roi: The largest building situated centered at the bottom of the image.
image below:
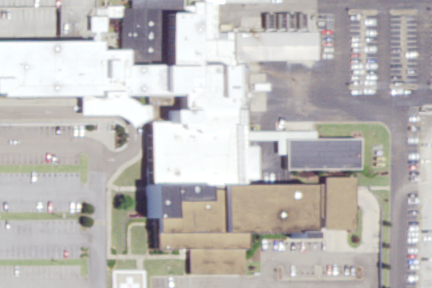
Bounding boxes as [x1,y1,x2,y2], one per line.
[142,176,358,274]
